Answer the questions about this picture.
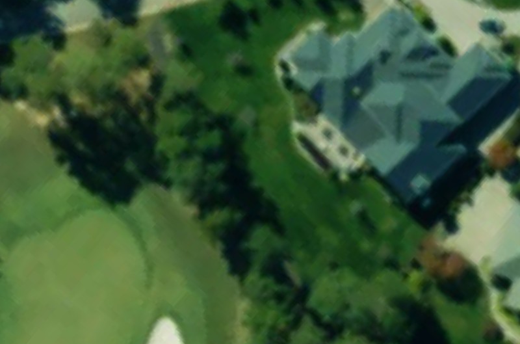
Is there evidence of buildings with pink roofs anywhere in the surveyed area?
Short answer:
No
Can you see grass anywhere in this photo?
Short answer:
Yes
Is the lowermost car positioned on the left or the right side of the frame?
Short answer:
right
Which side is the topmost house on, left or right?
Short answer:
right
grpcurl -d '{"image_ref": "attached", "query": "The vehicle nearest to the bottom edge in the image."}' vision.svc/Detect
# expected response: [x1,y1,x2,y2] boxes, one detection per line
[476,15,507,37]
